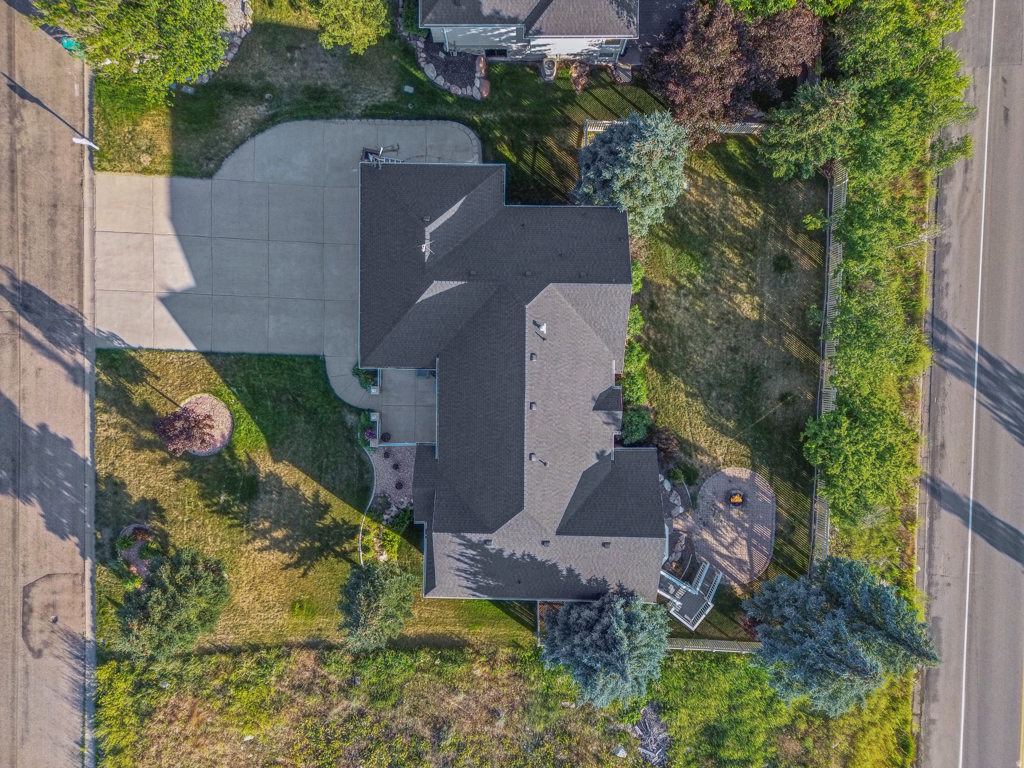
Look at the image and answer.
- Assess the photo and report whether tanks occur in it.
No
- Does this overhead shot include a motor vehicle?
No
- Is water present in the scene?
No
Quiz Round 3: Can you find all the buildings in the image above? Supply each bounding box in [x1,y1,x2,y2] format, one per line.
[418,0,691,71]
[357,161,667,605]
